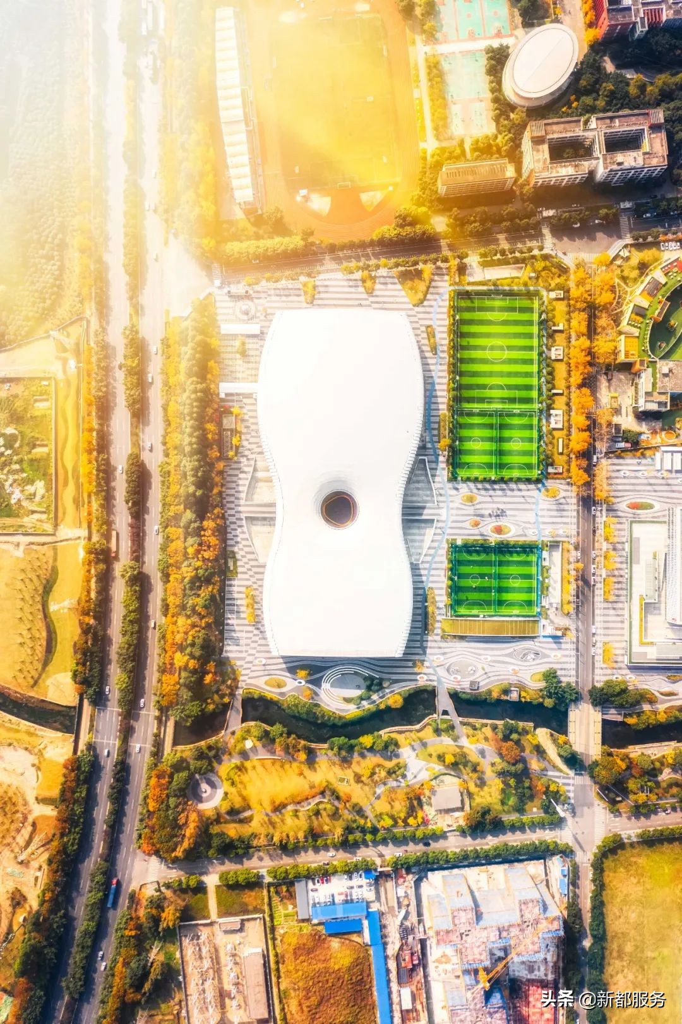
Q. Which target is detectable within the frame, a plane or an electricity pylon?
electricity pylon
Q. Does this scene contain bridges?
Yes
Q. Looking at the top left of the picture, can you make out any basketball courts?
No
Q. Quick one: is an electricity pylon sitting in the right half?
No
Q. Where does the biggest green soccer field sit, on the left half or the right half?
right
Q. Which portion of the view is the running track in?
top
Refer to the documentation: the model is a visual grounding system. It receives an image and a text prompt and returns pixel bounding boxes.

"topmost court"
[436,0,515,46]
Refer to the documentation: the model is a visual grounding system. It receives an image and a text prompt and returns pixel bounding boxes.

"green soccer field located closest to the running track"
[457,293,540,409]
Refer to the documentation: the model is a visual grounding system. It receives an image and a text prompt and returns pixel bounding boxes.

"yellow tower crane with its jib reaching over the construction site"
[471,906,562,994]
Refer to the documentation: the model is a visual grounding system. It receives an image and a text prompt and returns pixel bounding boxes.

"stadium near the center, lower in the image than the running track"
[257,306,424,656]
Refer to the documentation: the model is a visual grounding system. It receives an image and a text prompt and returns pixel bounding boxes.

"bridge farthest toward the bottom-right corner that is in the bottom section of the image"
[568,700,603,758]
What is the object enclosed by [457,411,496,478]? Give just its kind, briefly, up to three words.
soccer field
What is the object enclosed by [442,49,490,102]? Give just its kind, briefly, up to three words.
basketball court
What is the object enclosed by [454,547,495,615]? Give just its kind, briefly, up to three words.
soccer field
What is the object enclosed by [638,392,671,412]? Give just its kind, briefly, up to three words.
building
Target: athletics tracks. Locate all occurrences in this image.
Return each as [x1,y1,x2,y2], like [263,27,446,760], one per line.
[255,0,428,238]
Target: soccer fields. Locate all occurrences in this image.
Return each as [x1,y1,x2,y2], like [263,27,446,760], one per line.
[454,547,495,615]
[457,411,496,478]
[457,293,540,409]
[498,411,540,478]
[496,547,539,615]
